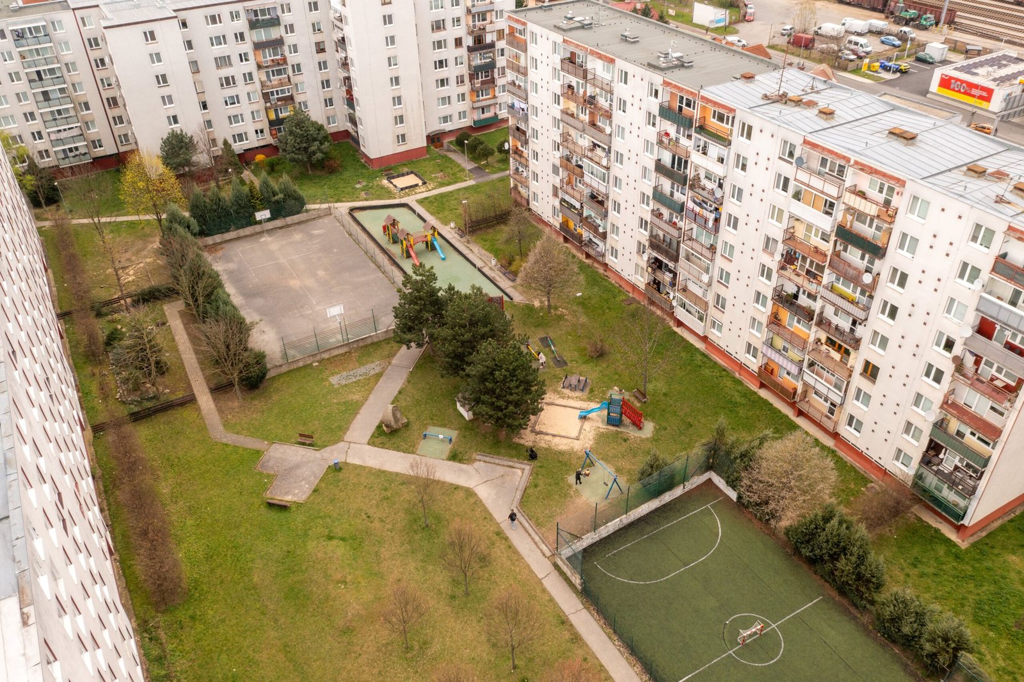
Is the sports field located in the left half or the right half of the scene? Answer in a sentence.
It is on the right.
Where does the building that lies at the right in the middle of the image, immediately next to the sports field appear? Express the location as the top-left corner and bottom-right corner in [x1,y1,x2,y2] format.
[505,0,1024,541]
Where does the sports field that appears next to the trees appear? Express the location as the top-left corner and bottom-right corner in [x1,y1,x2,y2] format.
[558,477,923,682]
